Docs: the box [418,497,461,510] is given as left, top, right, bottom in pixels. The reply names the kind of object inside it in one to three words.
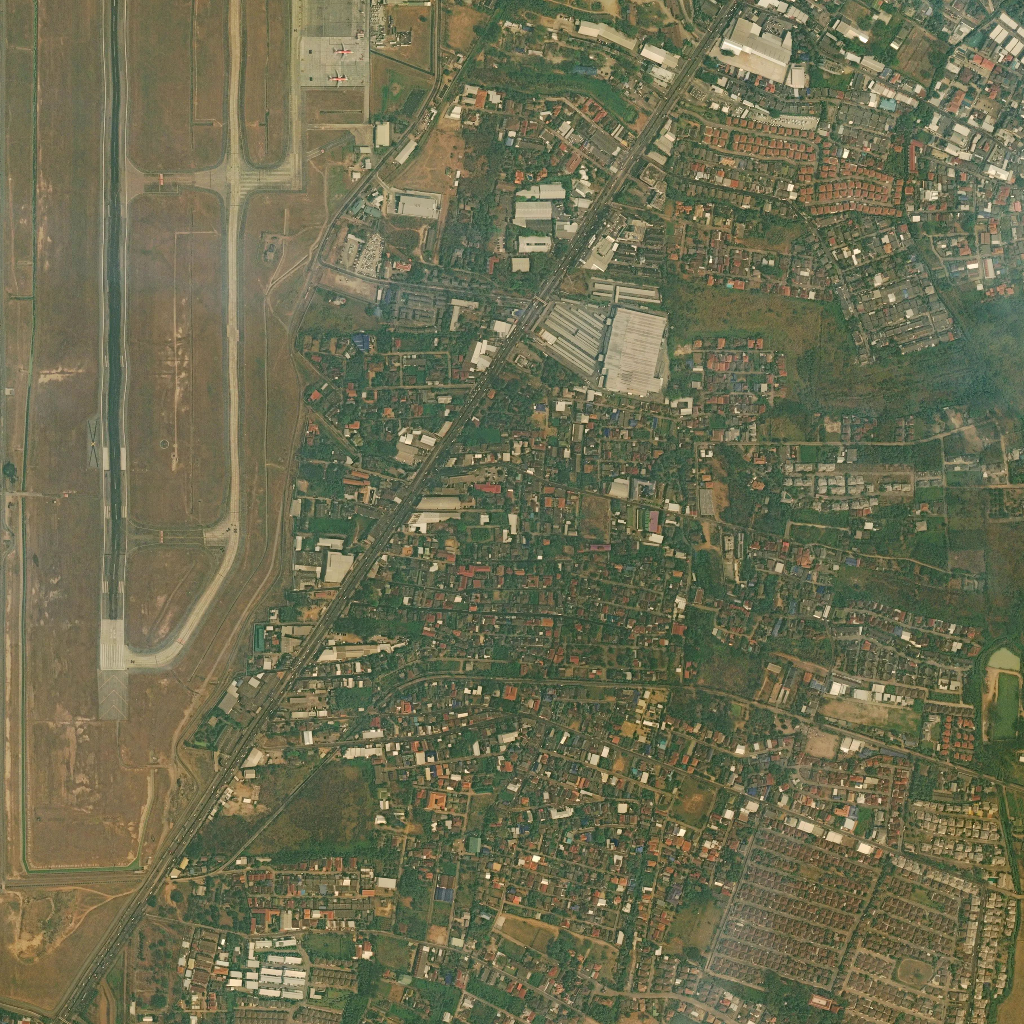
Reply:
building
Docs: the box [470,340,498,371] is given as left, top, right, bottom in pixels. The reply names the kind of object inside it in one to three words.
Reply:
building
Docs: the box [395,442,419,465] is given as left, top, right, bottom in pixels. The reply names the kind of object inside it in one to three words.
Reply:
shed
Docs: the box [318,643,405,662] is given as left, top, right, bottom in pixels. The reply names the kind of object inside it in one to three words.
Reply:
shed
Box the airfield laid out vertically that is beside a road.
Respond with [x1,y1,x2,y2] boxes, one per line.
[5,0,374,768]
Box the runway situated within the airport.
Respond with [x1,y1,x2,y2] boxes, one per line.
[97,0,130,720]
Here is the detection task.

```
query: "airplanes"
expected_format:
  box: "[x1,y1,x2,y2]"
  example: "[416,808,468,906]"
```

[335,44,354,61]
[329,71,348,88]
